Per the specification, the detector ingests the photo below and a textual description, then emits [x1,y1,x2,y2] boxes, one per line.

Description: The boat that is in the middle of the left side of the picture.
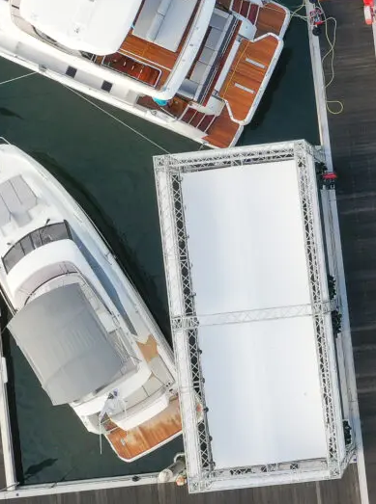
[0,136,184,461]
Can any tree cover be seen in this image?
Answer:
No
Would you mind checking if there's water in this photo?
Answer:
Yes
